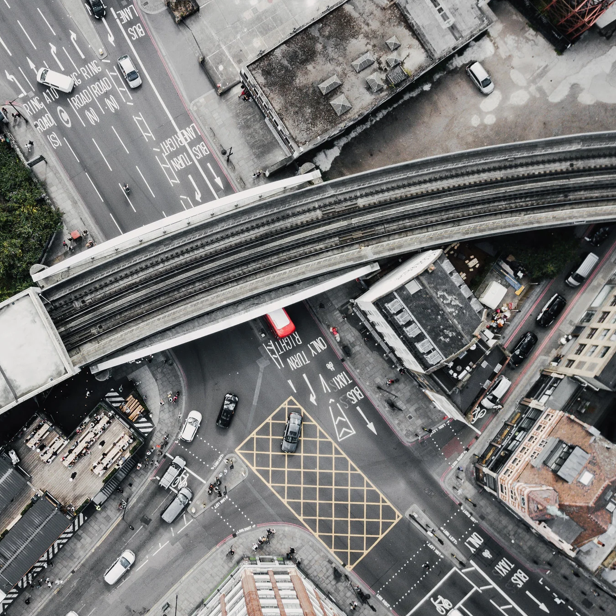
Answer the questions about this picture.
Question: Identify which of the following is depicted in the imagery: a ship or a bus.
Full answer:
Looking from above, you can make out a bus.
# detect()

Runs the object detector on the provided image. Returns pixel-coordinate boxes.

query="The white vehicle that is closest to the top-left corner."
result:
[32,66,79,97]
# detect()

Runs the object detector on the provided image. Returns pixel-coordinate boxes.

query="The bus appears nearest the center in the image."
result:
[260,307,297,344]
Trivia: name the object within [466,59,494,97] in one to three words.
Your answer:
car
